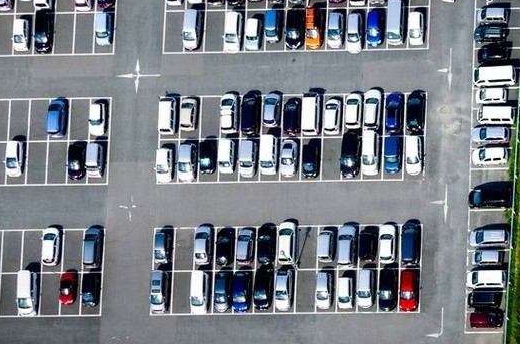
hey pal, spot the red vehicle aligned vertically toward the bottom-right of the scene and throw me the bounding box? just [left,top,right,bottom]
[399,271,418,312]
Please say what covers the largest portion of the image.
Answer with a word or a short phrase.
paved ground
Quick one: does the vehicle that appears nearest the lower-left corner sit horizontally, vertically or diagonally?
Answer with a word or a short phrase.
vertically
